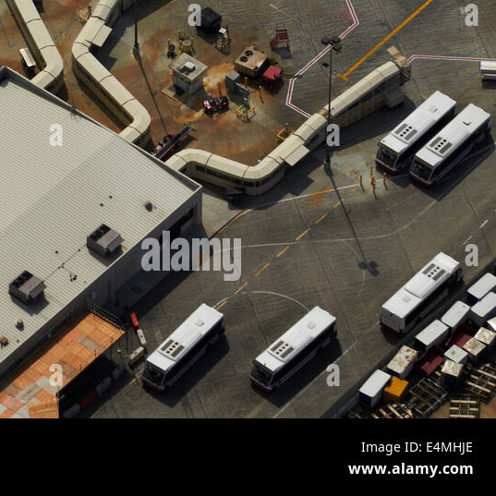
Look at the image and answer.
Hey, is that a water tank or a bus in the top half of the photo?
bus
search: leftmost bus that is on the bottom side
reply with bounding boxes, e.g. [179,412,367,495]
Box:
[140,301,227,394]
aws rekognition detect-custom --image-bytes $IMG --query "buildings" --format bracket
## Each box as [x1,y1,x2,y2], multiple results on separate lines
[0,67,205,371]
[168,52,211,101]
